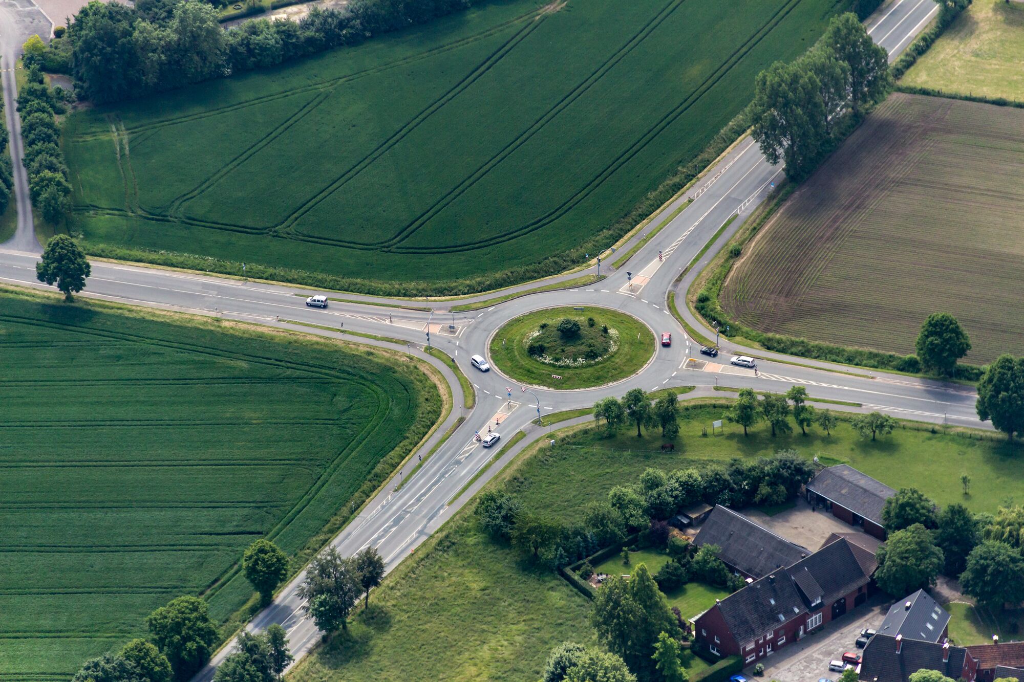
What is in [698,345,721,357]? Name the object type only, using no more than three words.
vehicle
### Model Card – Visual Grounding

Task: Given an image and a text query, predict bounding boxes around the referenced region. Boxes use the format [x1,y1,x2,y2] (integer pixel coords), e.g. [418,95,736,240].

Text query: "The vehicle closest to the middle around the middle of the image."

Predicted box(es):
[471,355,489,372]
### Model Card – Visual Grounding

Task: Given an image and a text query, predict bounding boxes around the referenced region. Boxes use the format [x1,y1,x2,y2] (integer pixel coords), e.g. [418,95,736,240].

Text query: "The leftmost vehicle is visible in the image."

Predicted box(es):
[306,297,328,309]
